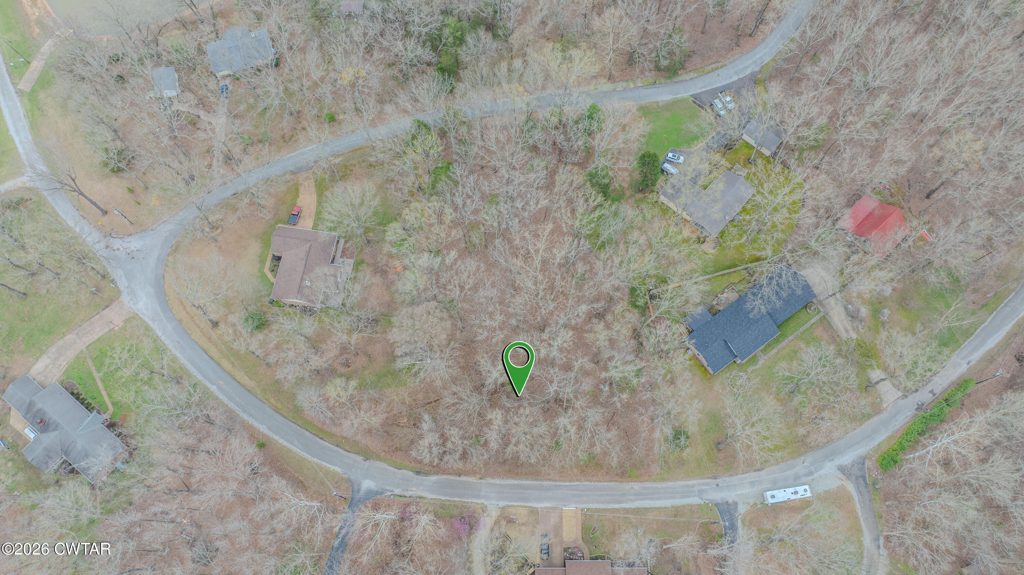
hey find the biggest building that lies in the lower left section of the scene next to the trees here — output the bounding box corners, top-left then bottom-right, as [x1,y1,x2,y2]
[1,373,131,482]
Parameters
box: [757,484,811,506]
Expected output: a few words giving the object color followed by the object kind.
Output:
white trailer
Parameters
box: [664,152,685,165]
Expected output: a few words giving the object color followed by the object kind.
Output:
white vehicle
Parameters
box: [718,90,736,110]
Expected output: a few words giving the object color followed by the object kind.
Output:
white vehicle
